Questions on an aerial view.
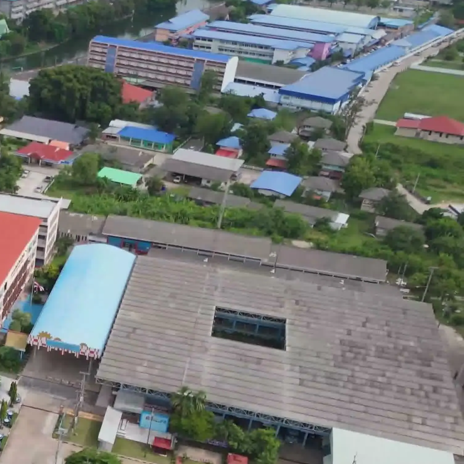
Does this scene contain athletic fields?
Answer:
Yes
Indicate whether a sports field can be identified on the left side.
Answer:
No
